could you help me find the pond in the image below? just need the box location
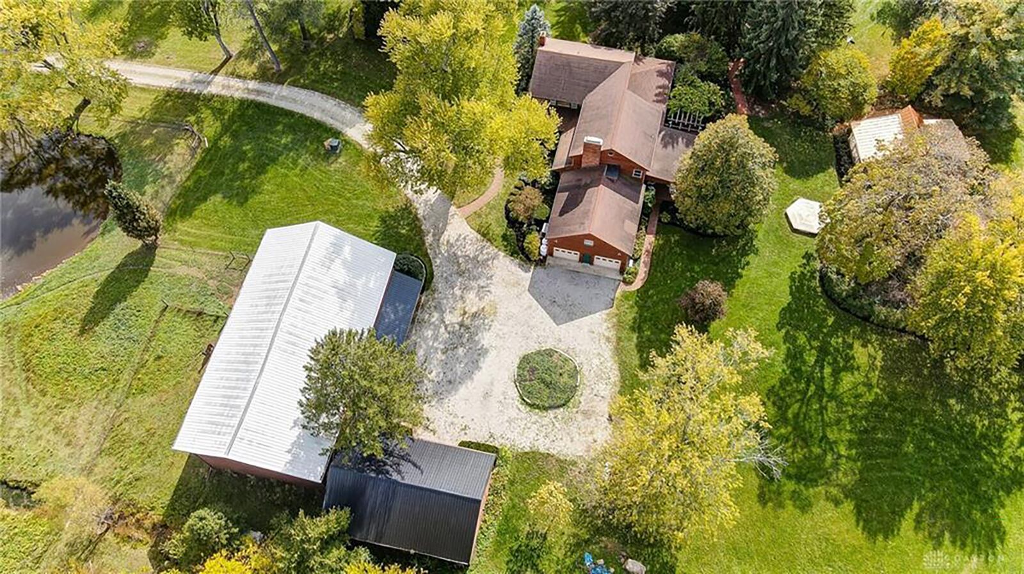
[0,130,129,312]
